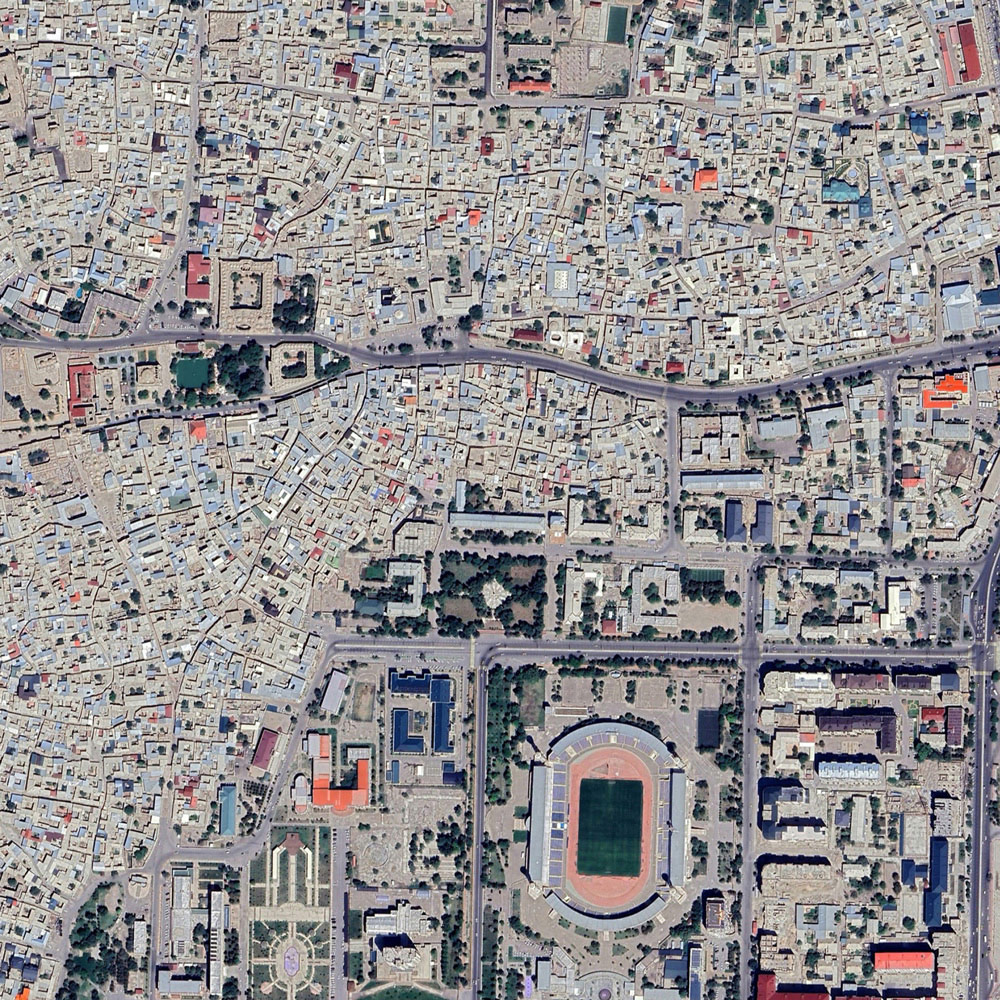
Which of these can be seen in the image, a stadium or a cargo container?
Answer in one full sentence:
It is a stadium that can be seen here.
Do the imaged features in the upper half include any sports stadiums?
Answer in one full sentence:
No, I can find no sports stadium in the upper half.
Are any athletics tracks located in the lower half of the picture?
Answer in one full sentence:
Yes, you'll find an athletics track in the lower half of the picture.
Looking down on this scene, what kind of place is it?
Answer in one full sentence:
This looks like a residential area.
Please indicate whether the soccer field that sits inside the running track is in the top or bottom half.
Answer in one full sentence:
Seen from above, the soccer field that sits inside the running track lies in the bottom half of the view.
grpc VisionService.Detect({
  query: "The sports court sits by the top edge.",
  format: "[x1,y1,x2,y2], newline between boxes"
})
[606,6,628,43]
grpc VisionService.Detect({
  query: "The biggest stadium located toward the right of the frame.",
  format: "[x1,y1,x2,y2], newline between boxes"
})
[525,720,701,943]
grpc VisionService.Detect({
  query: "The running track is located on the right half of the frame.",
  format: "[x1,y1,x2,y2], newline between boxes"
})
[562,744,658,907]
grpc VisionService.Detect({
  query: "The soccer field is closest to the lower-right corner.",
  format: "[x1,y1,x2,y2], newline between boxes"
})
[578,779,643,876]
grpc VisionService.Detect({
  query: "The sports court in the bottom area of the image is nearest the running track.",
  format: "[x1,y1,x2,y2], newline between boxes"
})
[698,710,718,748]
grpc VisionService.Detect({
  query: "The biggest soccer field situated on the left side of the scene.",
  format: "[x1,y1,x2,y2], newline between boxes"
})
[354,682,374,721]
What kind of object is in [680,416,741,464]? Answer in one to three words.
building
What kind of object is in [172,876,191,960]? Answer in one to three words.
building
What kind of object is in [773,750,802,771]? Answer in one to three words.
house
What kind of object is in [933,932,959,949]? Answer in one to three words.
house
